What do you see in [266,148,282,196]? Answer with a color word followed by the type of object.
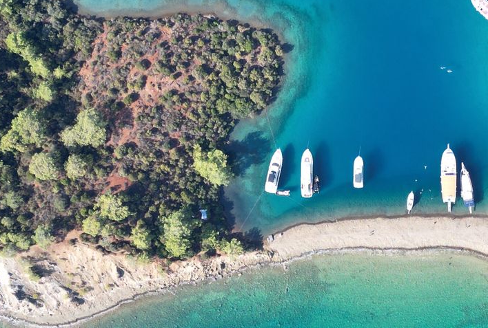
white boat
